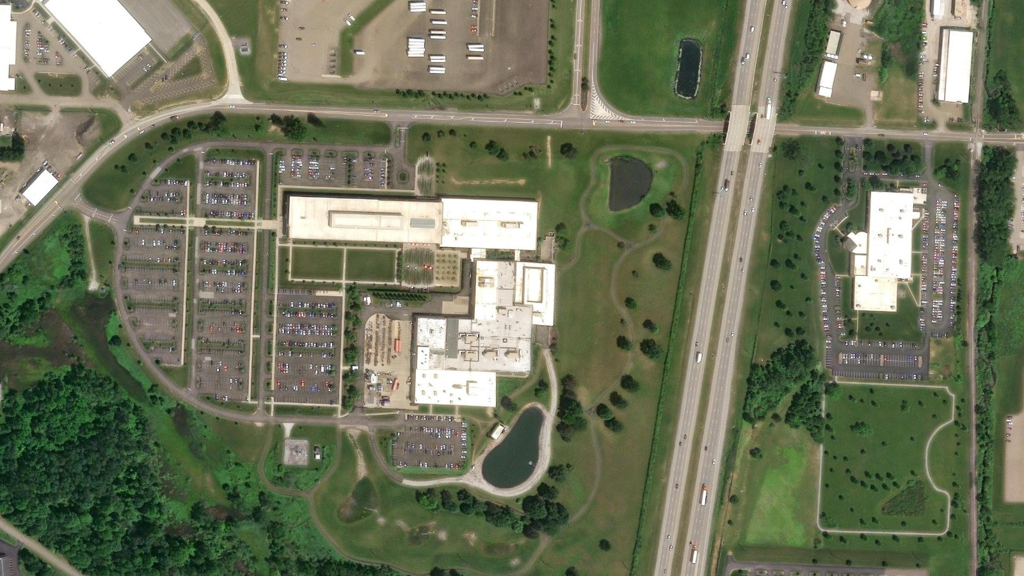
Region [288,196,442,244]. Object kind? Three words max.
building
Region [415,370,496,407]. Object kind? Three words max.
building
